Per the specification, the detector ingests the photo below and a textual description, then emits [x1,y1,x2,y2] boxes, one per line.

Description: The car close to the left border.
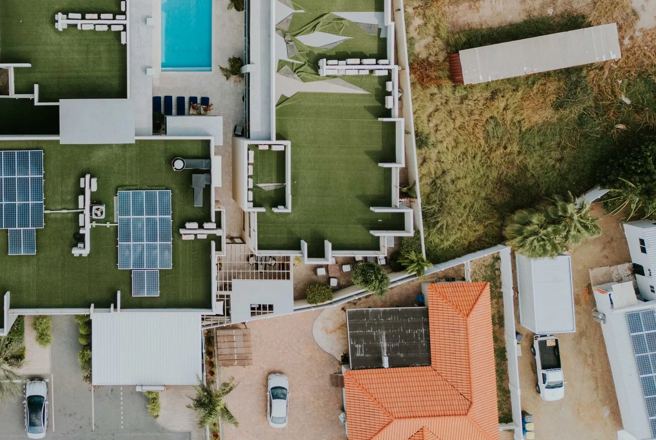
[21,377,50,439]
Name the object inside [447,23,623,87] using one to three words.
shipping container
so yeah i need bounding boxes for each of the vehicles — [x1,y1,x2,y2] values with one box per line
[532,334,568,399]
[21,377,50,439]
[266,371,291,427]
